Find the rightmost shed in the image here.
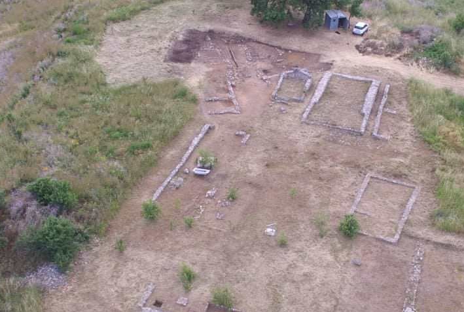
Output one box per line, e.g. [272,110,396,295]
[323,12,352,31]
